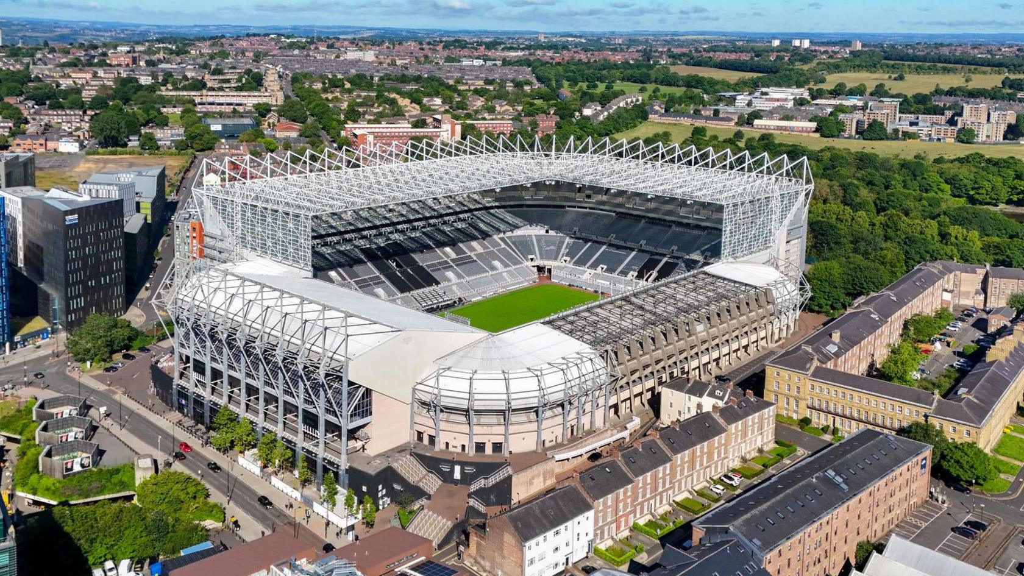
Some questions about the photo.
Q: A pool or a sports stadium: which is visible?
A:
sports stadium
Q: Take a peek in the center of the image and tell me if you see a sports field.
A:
Yes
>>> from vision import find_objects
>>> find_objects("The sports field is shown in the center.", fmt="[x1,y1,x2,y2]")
[433,284,608,333]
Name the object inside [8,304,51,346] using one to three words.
building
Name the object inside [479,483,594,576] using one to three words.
house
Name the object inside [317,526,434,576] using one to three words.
building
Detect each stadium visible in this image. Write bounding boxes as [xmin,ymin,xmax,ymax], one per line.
[139,132,819,548]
